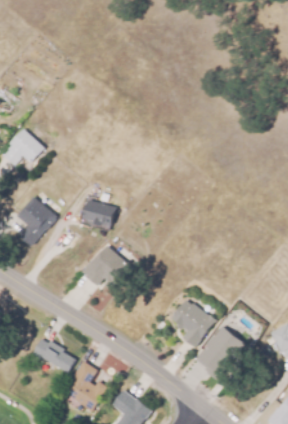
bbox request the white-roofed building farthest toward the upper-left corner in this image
[2,129,44,166]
